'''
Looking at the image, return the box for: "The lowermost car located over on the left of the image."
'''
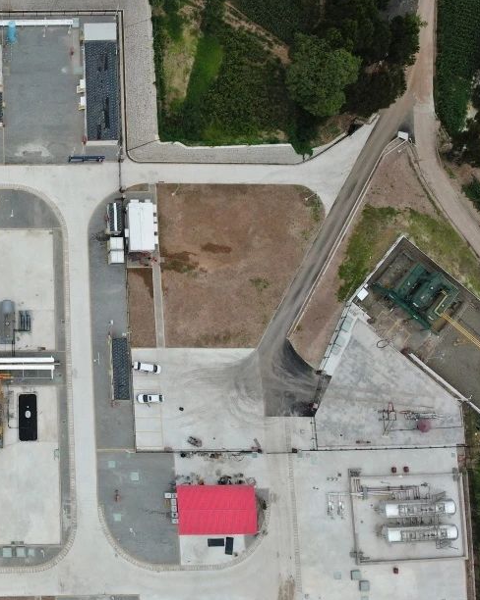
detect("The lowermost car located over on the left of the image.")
[136,392,164,405]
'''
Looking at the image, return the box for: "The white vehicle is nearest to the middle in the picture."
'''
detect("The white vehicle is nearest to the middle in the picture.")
[135,360,162,375]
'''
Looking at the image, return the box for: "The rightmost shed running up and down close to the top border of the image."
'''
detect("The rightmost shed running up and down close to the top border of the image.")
[82,22,121,146]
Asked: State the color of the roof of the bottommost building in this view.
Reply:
red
